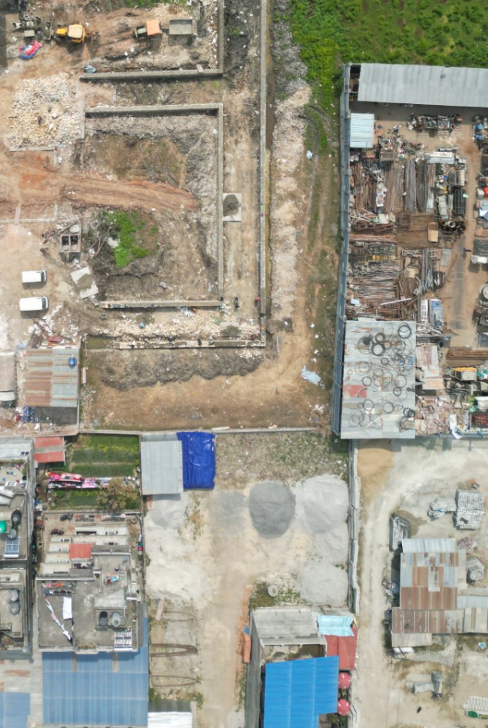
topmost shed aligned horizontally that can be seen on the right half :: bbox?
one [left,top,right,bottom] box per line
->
[349,64,488,107]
